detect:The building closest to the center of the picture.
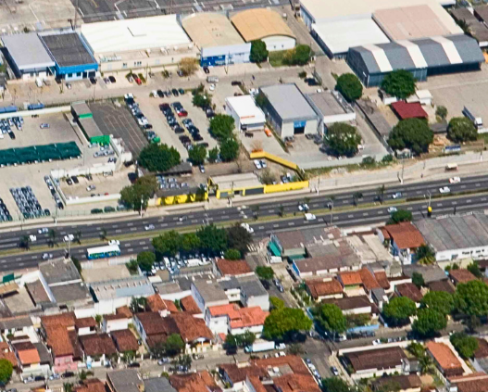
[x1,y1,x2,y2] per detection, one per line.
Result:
[209,173,264,200]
